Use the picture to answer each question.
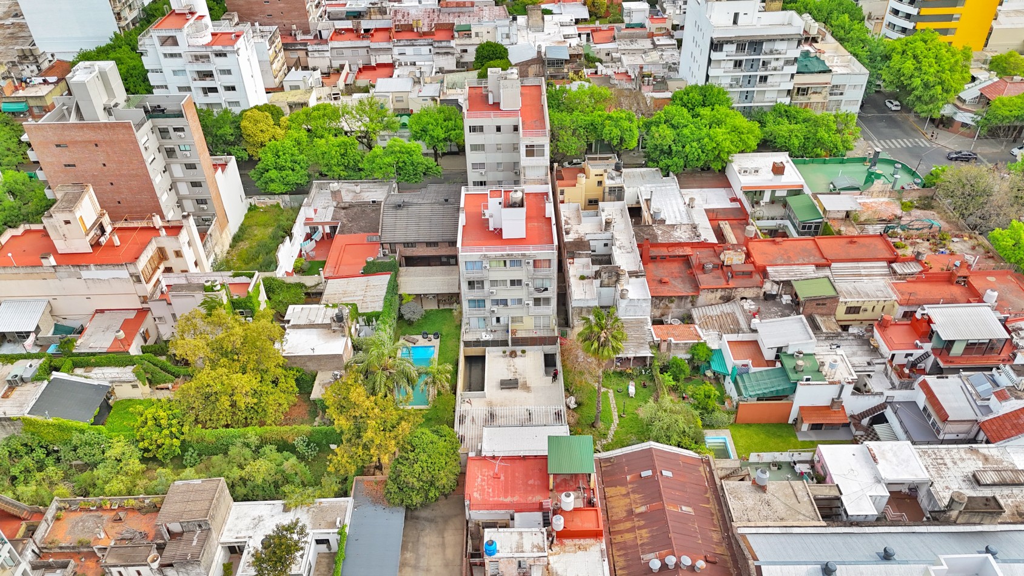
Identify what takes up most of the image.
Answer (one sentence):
What you mostly see from above here is buildings.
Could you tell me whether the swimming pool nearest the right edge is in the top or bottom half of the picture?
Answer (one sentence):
Seen from above, the swimming pool nearest the right edge lies in the bottom half of the view.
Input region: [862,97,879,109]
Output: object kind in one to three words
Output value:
vehicle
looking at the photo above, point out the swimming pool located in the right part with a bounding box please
[704,429,738,460]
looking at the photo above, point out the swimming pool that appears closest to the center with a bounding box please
[389,335,443,412]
